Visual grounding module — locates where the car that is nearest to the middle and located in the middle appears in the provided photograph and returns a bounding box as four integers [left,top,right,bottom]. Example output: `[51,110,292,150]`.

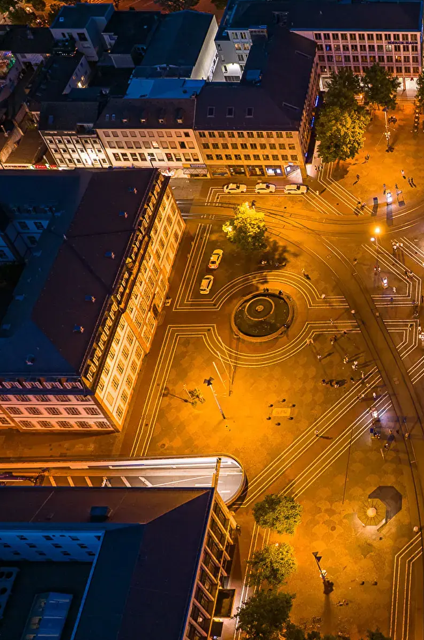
[198,274,216,296]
